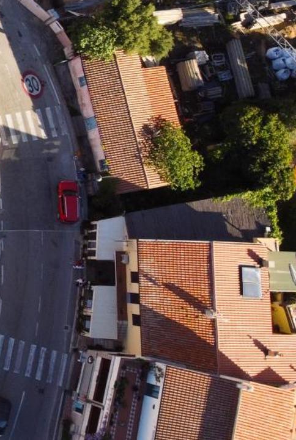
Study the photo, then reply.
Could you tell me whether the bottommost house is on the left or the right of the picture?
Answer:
right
